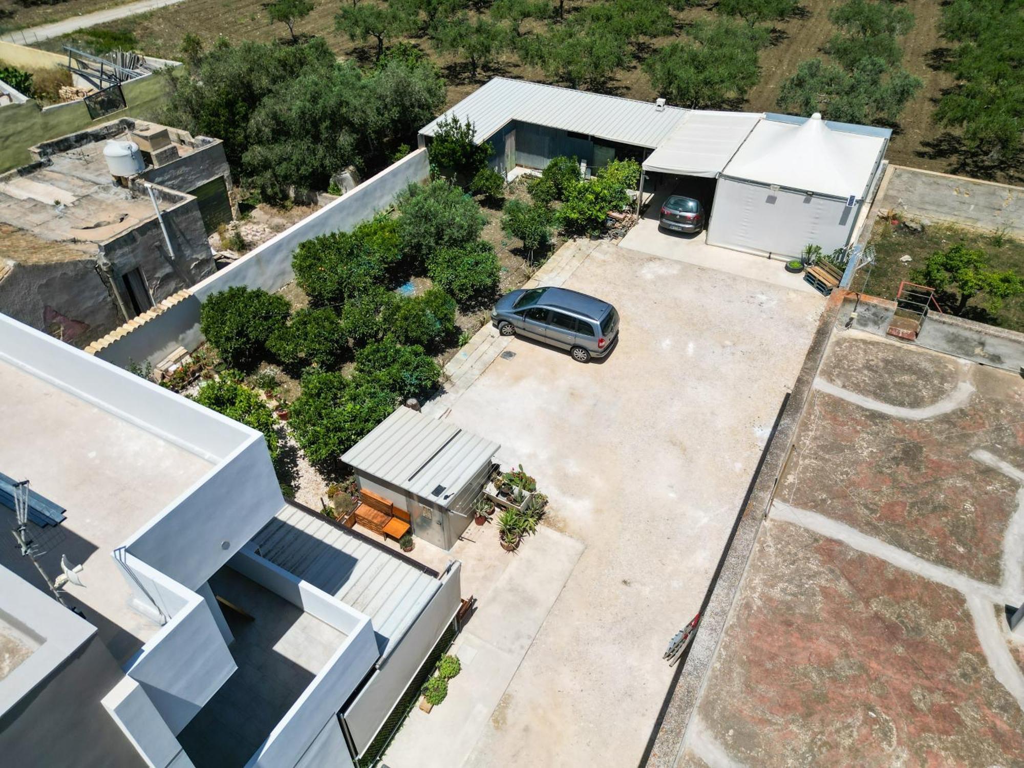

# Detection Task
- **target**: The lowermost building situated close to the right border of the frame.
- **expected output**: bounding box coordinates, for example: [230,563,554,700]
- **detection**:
[644,287,1024,768]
